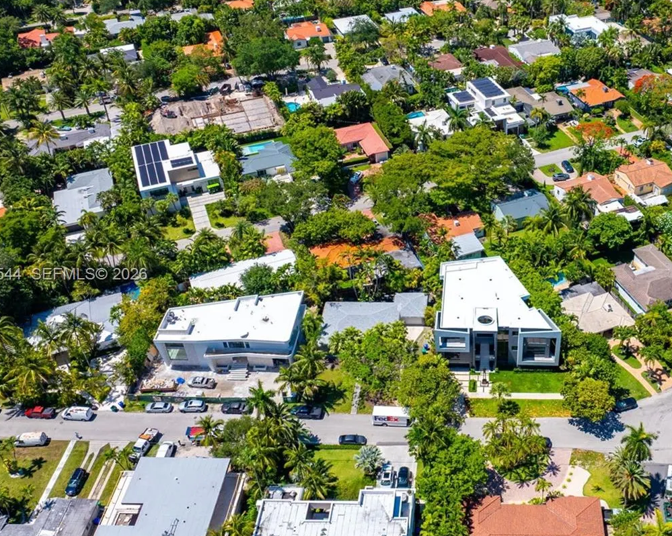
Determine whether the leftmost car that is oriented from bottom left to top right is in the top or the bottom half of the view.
bottom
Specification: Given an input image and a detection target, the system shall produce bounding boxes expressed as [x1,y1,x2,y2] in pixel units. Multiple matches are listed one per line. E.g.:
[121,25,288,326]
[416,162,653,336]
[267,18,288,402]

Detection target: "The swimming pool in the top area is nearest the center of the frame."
[242,139,278,153]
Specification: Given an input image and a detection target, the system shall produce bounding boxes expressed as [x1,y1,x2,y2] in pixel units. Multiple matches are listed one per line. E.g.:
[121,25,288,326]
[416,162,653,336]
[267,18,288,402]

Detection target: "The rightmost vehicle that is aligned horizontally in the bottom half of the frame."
[612,397,640,412]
